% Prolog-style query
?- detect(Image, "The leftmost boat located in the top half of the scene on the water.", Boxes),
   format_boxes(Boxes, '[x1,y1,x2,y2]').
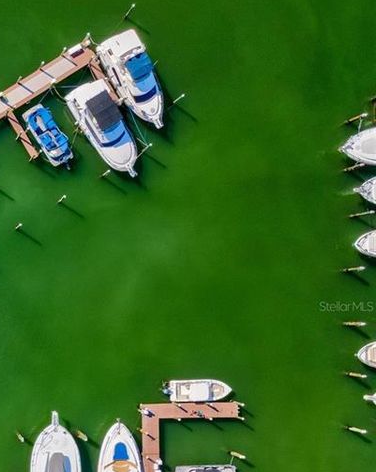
[24,86,75,173]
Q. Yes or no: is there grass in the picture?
No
